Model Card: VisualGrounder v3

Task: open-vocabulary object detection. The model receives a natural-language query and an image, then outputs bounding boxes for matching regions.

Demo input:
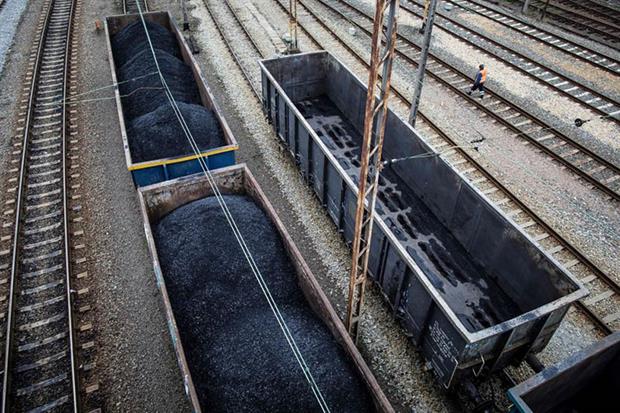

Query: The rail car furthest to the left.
[104,10,239,227]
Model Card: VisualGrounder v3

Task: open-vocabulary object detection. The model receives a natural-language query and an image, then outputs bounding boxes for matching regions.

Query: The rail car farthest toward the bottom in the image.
[493,332,620,413]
